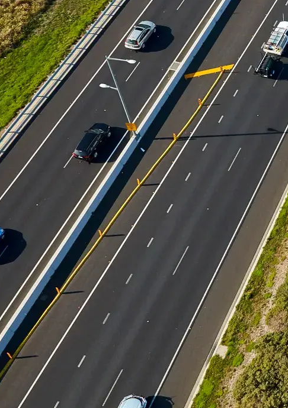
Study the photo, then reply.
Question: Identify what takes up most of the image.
paved ground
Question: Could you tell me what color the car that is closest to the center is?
black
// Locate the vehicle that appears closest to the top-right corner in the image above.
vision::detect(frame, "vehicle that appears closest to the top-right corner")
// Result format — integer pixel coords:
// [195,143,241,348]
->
[263,22,288,59]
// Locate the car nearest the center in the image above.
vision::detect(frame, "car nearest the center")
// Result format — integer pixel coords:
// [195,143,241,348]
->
[71,126,110,163]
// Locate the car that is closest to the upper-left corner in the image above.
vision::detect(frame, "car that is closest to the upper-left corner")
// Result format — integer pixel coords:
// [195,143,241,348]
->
[123,21,156,52]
